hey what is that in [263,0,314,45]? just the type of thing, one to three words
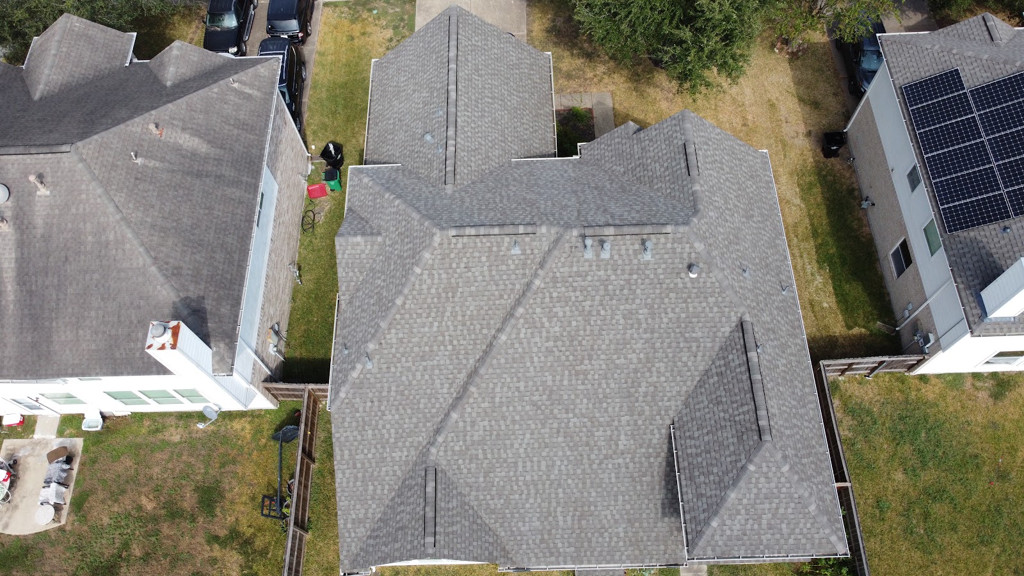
car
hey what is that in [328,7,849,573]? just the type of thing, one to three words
house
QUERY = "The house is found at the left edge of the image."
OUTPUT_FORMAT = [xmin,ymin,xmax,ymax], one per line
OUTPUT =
[0,15,314,416]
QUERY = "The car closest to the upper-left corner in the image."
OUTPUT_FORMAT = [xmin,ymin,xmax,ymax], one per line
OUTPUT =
[200,0,257,62]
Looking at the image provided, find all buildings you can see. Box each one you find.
[328,7,849,573]
[0,15,314,416]
[839,15,1024,374]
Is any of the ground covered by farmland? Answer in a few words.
No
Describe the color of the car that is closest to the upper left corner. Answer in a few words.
black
